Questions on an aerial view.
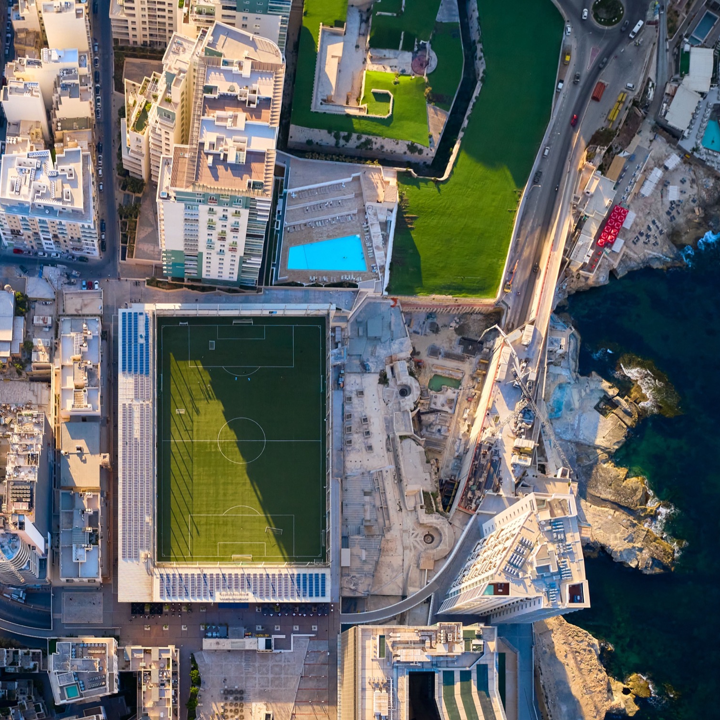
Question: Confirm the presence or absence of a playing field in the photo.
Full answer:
Yes, a playing field can be made out from above.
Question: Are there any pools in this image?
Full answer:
Yes, there's a pool here.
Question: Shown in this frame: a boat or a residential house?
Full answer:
There is a residential house in the scene.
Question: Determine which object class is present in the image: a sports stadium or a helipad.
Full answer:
Visible in the photo is a sports stadium.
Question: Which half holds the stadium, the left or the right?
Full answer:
The stadium is on the left side of the image.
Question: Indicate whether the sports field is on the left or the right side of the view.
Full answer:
It is on the left.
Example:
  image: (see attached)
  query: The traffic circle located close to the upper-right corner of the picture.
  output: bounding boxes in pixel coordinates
[593,0,624,26]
